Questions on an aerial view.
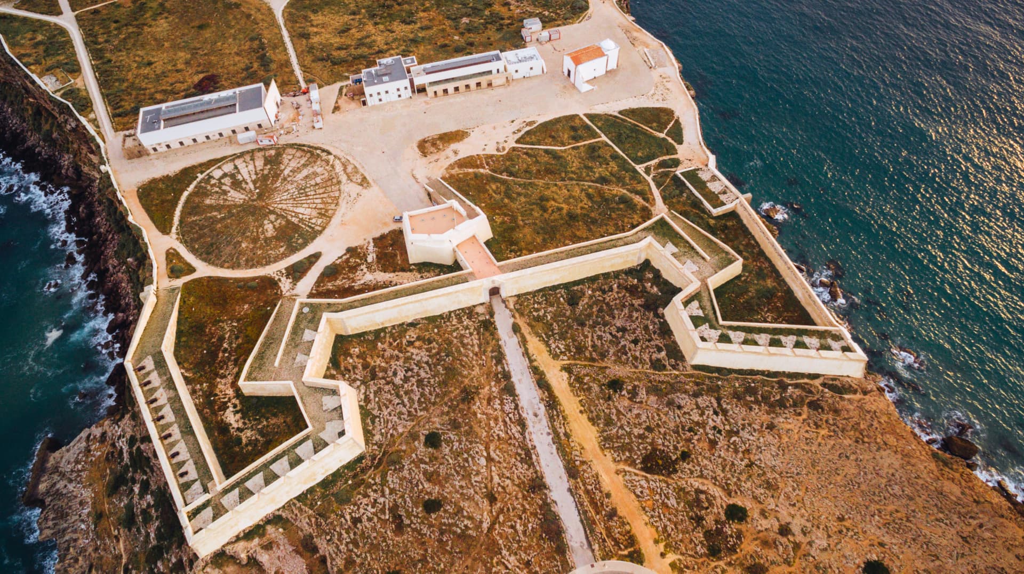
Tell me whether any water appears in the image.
Yes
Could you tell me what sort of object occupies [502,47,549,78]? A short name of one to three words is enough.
building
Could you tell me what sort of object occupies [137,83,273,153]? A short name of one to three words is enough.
building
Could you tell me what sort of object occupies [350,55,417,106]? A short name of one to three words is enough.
house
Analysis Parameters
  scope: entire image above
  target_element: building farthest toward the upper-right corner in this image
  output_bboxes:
[562,39,619,87]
